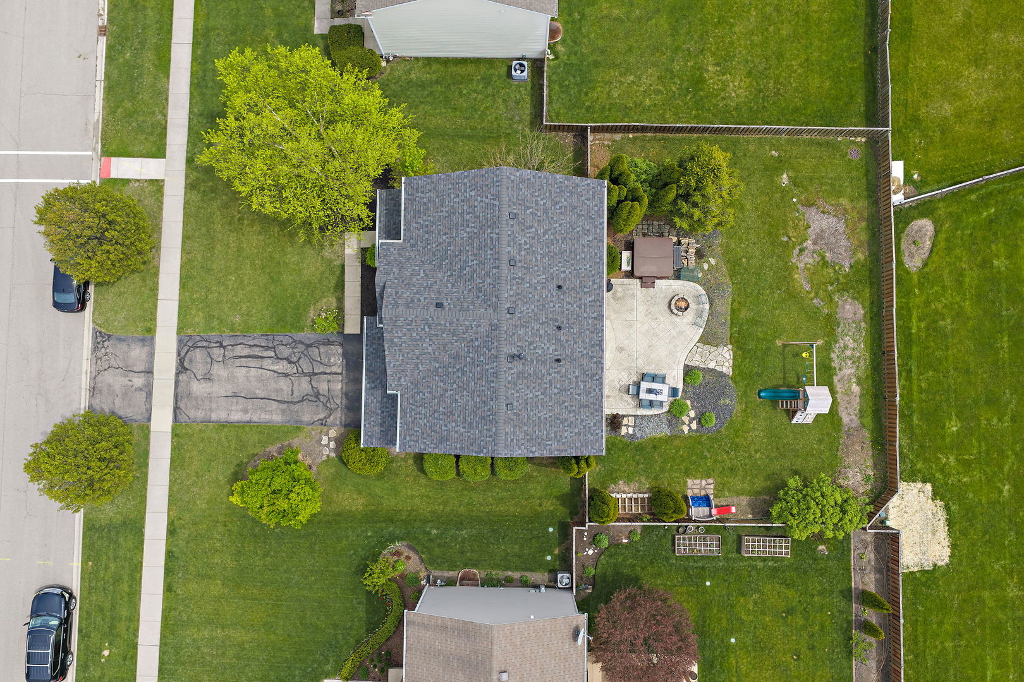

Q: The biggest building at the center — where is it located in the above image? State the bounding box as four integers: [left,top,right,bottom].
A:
[360,167,608,457]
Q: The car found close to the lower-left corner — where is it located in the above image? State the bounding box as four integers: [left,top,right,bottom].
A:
[22,585,76,682]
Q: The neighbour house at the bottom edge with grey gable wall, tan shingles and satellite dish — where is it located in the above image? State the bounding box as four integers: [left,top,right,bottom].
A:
[401,579,590,682]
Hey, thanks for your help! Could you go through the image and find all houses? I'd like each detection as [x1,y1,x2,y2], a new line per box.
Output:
[401,579,590,682]
[360,167,608,457]
[354,0,559,60]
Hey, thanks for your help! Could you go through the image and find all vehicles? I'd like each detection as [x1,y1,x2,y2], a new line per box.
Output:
[22,585,76,682]
[49,237,88,313]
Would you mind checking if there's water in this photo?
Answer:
No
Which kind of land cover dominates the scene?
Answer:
grass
